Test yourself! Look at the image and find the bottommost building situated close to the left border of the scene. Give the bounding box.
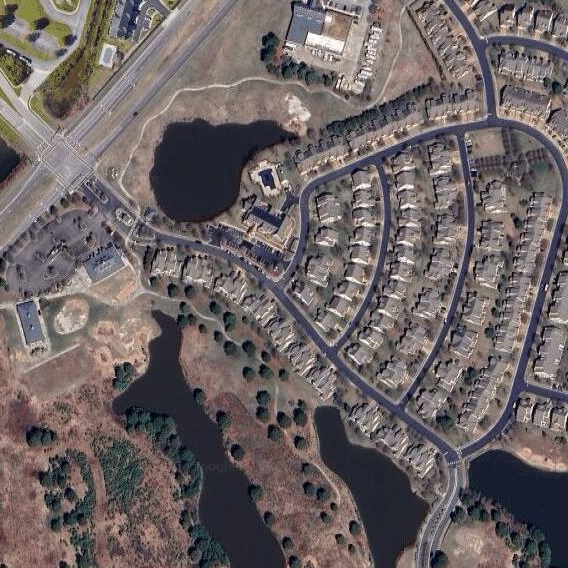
[18,302,45,346]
